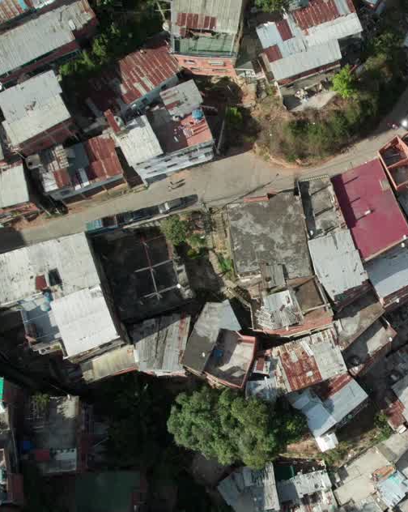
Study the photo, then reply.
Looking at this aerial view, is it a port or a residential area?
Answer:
residential area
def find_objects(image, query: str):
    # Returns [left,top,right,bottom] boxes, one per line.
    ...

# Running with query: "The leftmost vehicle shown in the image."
[86,208,131,232]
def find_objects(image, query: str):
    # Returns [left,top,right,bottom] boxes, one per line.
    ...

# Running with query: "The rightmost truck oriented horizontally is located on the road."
[156,190,202,216]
